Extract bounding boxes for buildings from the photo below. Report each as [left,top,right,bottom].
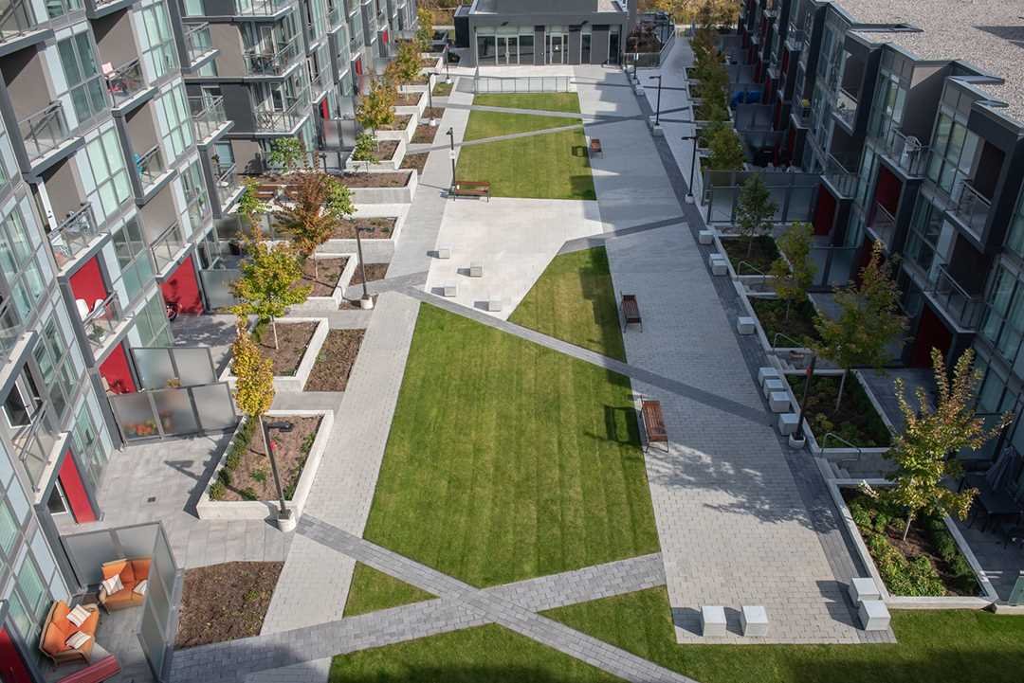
[0,0,248,683]
[464,0,641,66]
[730,0,1024,469]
